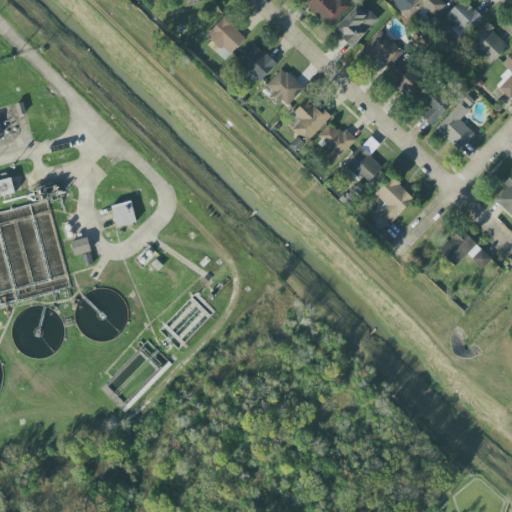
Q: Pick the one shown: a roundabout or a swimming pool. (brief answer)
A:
swimming pool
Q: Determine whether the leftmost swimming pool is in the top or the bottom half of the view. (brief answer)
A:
top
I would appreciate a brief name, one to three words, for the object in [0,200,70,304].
water tank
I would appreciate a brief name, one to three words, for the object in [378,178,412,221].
house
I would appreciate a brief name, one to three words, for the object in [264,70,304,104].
house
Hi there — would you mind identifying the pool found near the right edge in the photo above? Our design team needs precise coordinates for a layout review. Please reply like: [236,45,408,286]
[470,98,488,126]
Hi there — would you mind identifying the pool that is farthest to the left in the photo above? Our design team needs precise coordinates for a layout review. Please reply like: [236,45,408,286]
[386,16,410,44]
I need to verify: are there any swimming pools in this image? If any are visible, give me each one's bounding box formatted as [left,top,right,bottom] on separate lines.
[386,16,410,44]
[470,98,488,126]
